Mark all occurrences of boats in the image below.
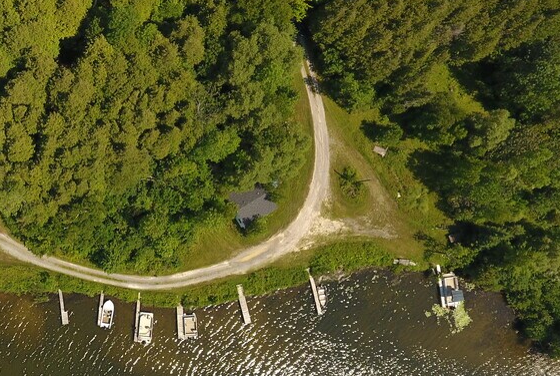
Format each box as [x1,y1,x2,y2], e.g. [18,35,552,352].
[183,313,197,340]
[101,299,113,331]
[136,311,154,345]
[442,274,467,311]
[317,286,326,307]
